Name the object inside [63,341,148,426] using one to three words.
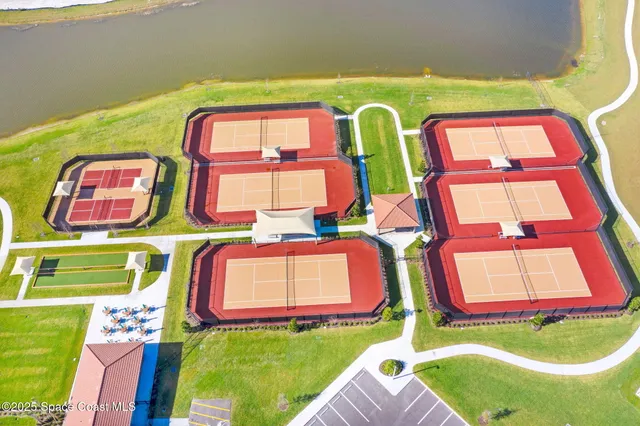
building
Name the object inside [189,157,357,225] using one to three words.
tennis court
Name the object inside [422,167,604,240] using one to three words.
tennis court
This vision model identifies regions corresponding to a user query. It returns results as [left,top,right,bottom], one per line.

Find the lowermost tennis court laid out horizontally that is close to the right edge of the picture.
[423,232,627,321]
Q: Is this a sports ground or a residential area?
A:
sports ground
